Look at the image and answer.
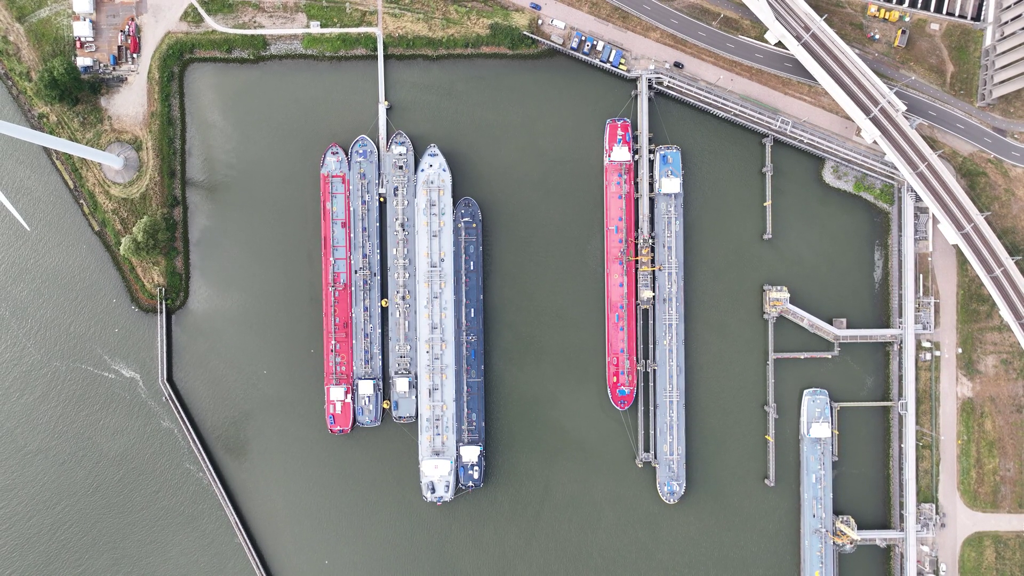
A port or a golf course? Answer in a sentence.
What you see here is a port.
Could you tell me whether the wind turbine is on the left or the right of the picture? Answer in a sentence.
It is on the left.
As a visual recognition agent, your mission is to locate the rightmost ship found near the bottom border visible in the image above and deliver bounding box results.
[797,387,833,576]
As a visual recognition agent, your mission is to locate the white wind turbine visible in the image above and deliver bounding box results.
[0,118,139,229]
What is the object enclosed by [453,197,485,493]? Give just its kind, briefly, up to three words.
ship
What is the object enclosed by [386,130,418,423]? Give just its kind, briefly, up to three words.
ship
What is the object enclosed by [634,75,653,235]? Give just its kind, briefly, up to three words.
pier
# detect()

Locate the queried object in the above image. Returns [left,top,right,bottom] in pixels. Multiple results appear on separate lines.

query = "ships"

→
[386,130,418,423]
[348,134,383,427]
[453,197,485,493]
[797,387,833,576]
[653,144,686,505]
[603,118,637,411]
[414,143,457,504]
[320,142,354,435]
